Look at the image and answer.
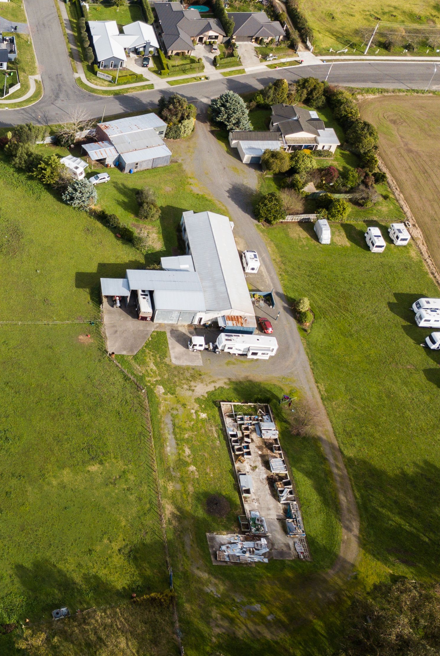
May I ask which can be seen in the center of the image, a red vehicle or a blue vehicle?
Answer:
red vehicle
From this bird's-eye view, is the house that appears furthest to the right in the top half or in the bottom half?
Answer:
top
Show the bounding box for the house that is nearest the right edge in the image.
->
[264,107,340,154]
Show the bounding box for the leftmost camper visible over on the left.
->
[63,151,87,177]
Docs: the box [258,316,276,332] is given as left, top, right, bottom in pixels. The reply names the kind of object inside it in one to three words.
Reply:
car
